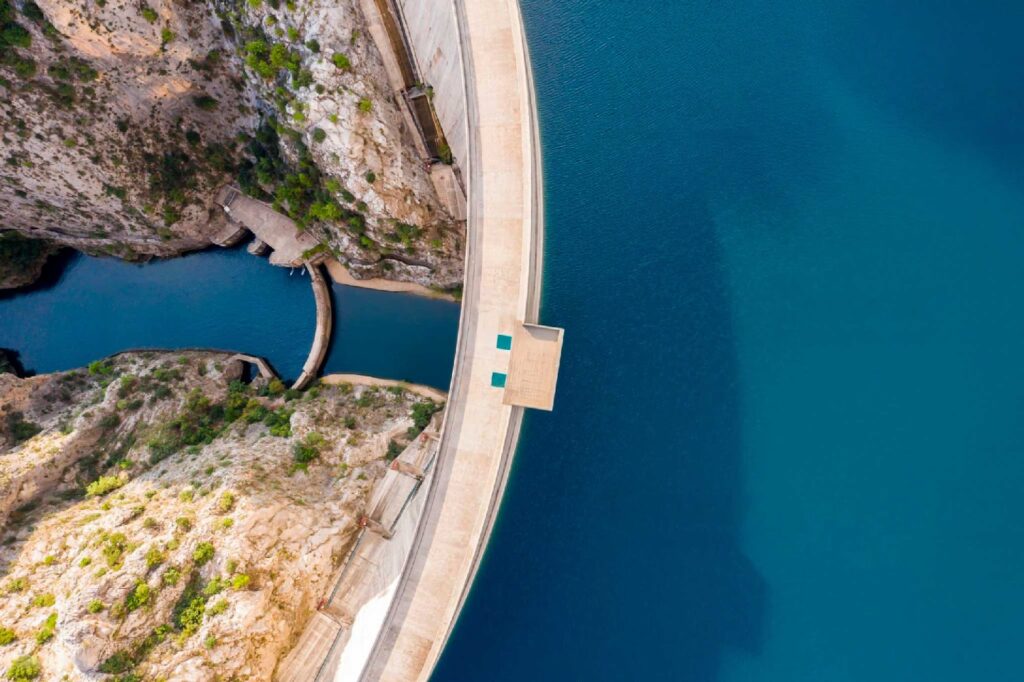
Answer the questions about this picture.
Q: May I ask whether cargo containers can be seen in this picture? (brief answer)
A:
No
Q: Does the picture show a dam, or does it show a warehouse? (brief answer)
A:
dam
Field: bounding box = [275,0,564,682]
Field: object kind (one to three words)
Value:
dam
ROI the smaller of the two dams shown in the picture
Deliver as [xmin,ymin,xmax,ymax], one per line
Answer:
[291,257,336,393]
